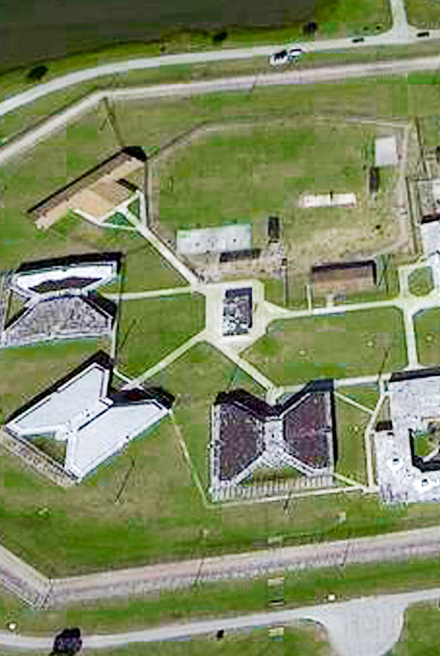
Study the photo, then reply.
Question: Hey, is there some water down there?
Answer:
No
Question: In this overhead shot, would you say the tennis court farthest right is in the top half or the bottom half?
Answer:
top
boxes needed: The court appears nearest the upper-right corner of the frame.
[376,137,397,165]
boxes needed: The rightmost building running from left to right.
[314,264,376,294]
